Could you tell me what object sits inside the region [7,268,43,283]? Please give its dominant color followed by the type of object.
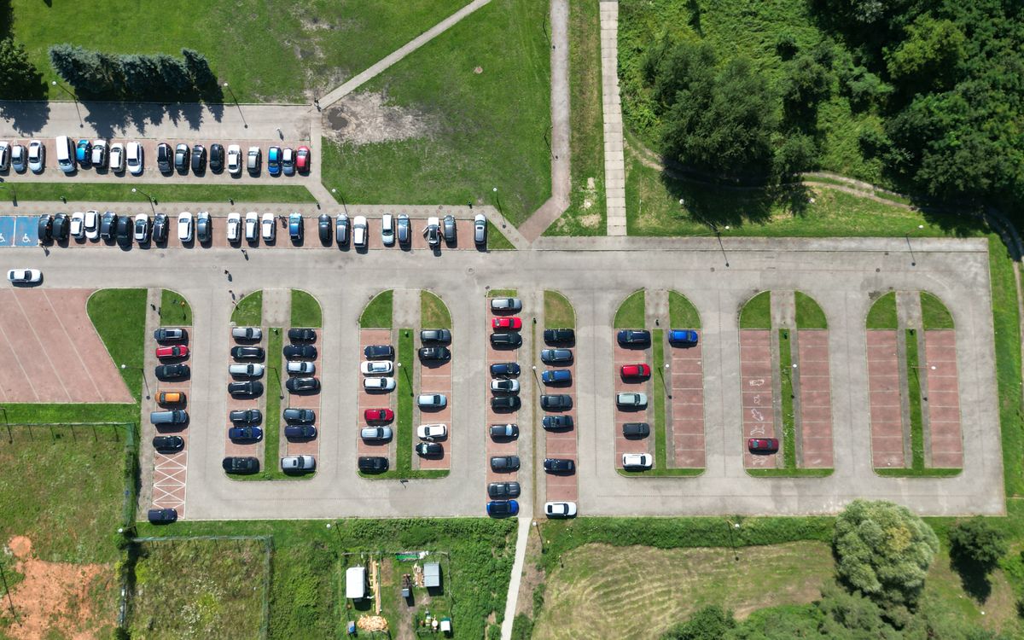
white car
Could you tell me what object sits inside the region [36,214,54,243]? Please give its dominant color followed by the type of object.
black car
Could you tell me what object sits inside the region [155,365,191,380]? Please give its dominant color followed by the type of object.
black car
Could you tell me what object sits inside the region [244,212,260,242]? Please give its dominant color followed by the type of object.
white car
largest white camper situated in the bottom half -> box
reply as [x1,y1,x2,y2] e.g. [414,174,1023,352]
[346,557,369,598]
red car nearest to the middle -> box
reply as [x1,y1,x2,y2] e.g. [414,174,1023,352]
[492,316,522,330]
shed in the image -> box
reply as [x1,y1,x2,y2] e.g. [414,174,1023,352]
[424,560,440,586]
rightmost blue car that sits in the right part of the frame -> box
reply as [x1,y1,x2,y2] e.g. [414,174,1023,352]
[668,329,698,344]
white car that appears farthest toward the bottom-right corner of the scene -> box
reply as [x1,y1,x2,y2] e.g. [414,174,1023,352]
[622,453,652,468]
